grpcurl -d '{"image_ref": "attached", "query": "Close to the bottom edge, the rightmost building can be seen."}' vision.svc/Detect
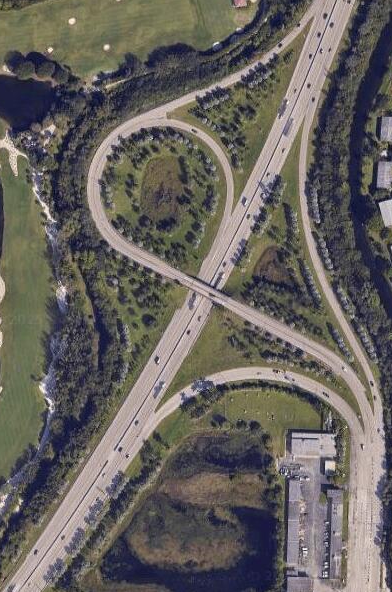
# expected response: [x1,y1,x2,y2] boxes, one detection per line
[331,489,344,579]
